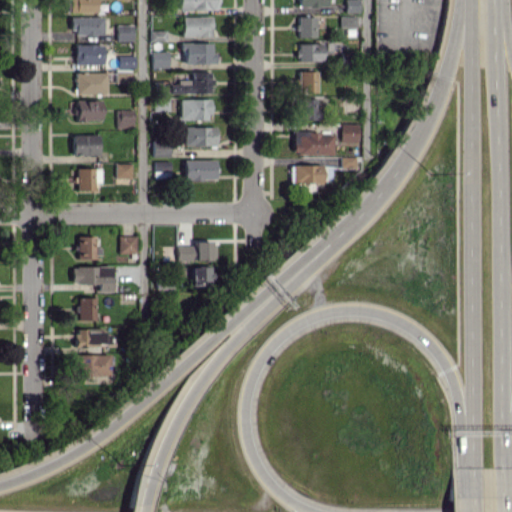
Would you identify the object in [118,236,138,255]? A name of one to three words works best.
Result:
building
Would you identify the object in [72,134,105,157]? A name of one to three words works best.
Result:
house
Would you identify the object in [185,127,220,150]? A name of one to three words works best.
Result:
house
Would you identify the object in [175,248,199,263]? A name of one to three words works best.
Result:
building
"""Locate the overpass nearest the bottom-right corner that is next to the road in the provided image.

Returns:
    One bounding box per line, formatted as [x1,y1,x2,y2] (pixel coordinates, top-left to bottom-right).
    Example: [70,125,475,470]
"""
[448,425,512,512]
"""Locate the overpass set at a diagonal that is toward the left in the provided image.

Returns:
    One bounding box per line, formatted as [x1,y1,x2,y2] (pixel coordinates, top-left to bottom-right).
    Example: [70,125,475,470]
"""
[128,329,248,512]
